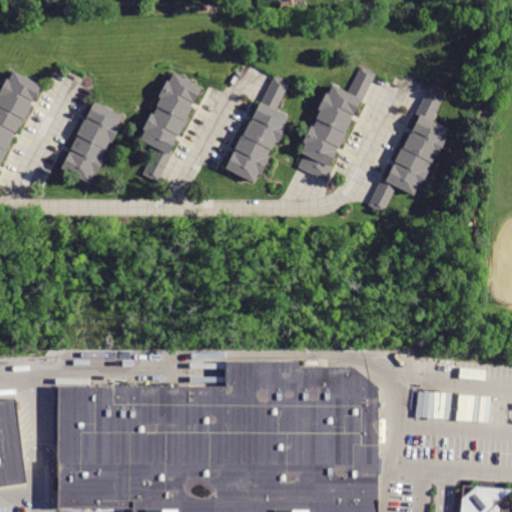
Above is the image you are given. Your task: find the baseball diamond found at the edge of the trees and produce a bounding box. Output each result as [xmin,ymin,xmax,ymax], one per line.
[486,88,512,311]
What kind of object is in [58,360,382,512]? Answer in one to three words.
warehouse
